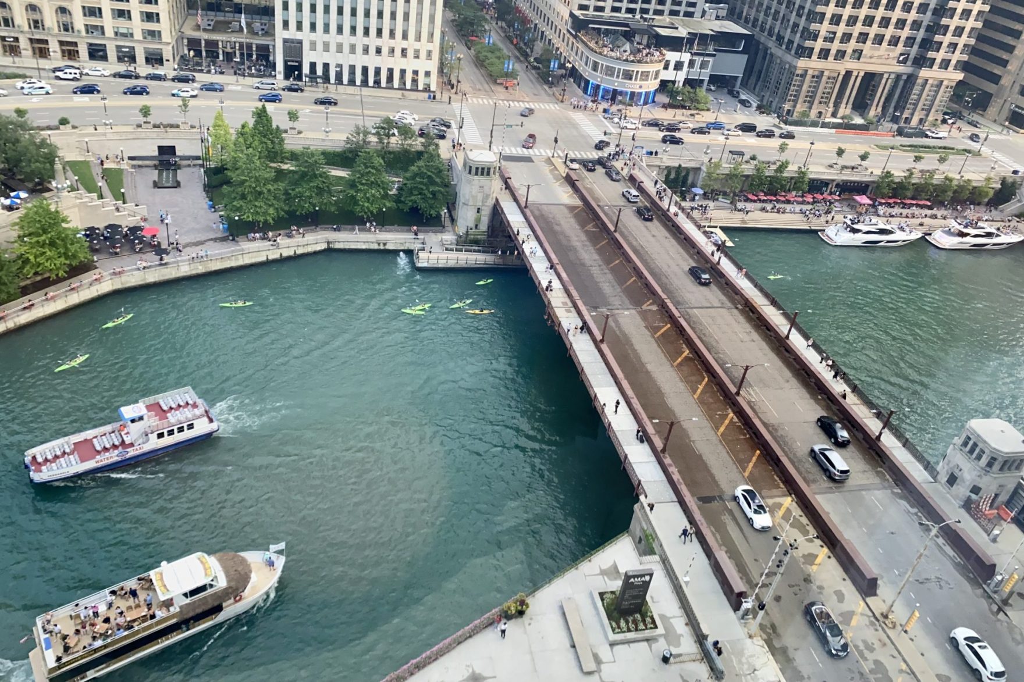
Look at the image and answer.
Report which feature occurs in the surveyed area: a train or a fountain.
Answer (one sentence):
The image shows a fountain.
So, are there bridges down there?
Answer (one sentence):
Yes, the image includes a bridge.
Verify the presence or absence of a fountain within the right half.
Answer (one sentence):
No, no fountain appears within the right half.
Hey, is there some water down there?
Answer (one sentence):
Yes, there's water in this view.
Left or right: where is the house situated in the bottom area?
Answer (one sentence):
The house situated in the bottom area is on the right side of the image.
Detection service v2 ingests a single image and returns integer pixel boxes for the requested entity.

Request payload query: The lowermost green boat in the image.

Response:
[54,353,89,372]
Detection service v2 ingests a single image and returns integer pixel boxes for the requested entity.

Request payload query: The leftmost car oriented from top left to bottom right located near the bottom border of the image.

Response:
[804,600,856,660]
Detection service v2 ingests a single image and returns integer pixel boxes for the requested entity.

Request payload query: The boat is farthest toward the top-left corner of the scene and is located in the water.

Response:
[102,313,133,328]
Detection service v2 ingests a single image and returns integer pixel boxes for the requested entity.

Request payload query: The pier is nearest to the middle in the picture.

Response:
[415,242,521,265]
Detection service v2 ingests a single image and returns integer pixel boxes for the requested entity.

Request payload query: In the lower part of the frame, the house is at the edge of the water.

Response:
[933,414,1024,516]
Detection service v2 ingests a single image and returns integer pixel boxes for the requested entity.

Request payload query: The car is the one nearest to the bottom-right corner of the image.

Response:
[950,628,1016,682]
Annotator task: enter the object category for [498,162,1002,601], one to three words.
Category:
bridge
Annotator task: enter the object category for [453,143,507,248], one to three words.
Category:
house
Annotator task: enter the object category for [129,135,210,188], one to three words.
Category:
fountain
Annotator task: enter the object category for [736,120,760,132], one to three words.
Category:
vehicle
